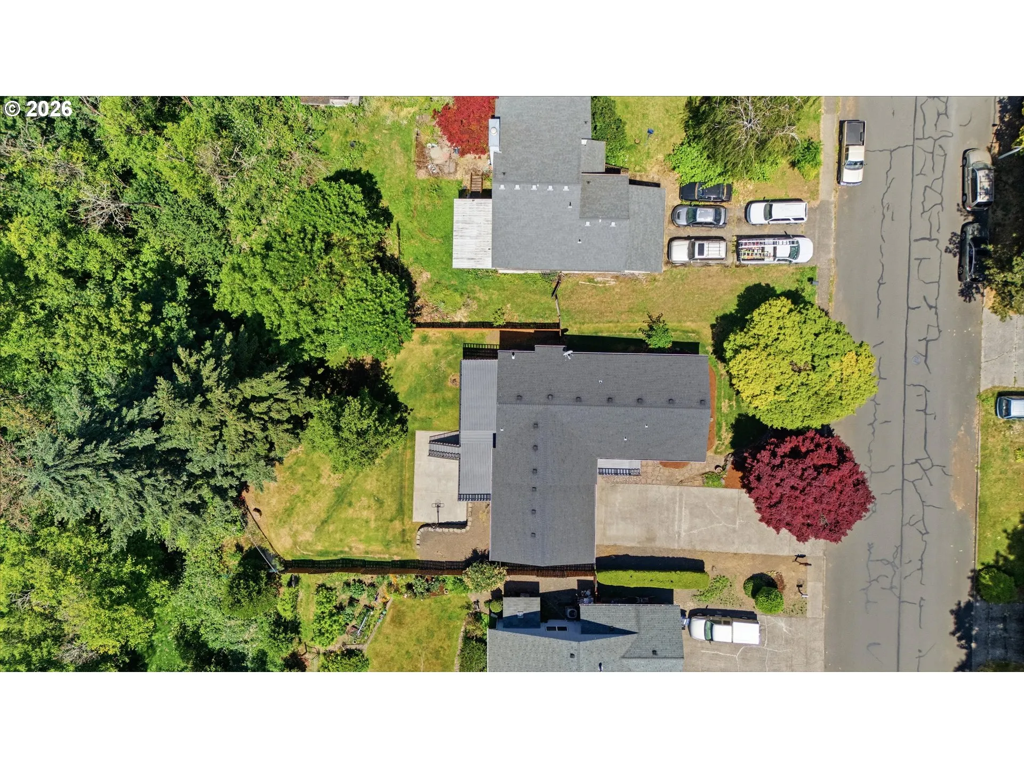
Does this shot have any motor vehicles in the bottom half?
Yes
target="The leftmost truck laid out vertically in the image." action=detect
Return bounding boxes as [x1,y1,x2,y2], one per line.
[837,120,868,187]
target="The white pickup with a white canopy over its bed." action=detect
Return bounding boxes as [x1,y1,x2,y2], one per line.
[686,613,763,644]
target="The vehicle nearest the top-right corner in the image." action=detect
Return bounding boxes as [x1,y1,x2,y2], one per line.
[959,152,994,212]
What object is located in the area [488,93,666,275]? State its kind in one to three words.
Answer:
house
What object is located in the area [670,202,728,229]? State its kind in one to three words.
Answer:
car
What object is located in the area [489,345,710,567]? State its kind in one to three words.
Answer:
house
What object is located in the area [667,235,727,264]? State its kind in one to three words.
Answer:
car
